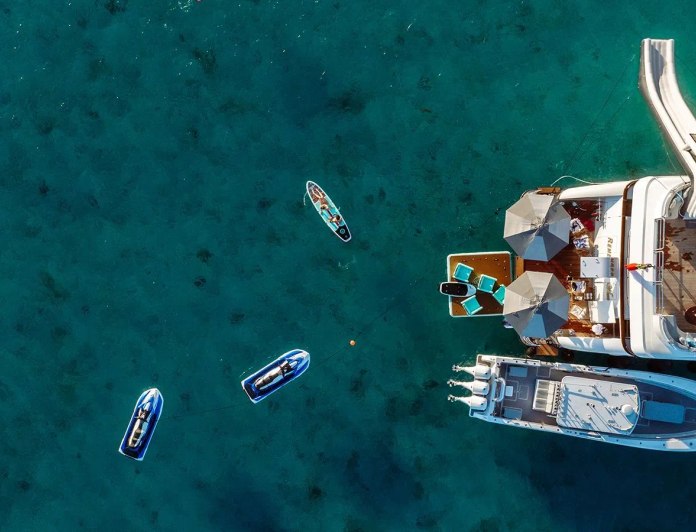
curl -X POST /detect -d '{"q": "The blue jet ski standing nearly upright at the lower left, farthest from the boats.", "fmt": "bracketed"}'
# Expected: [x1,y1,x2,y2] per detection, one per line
[120,389,164,461]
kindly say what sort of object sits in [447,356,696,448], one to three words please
boat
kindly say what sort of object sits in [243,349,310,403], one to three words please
boat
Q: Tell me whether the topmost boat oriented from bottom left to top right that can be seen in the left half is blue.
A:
Yes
